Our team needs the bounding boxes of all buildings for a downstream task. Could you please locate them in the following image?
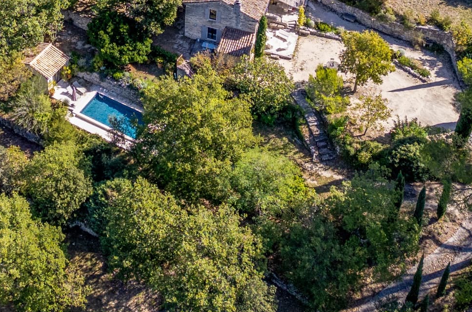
[182,0,316,71]
[17,44,71,97]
